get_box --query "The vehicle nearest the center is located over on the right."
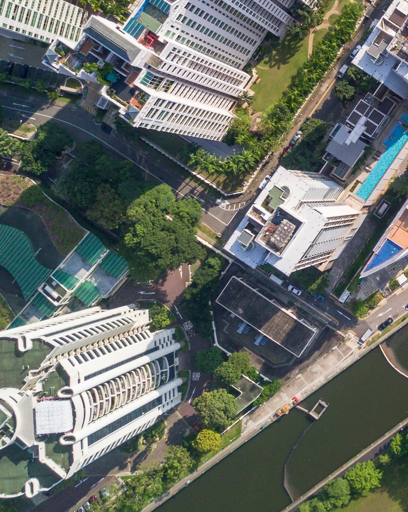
[263,270,285,285]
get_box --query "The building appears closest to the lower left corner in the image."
[0,304,185,498]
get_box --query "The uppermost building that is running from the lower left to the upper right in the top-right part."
[327,94,400,180]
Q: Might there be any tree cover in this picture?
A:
Yes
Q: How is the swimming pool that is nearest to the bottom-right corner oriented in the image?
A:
at an angle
